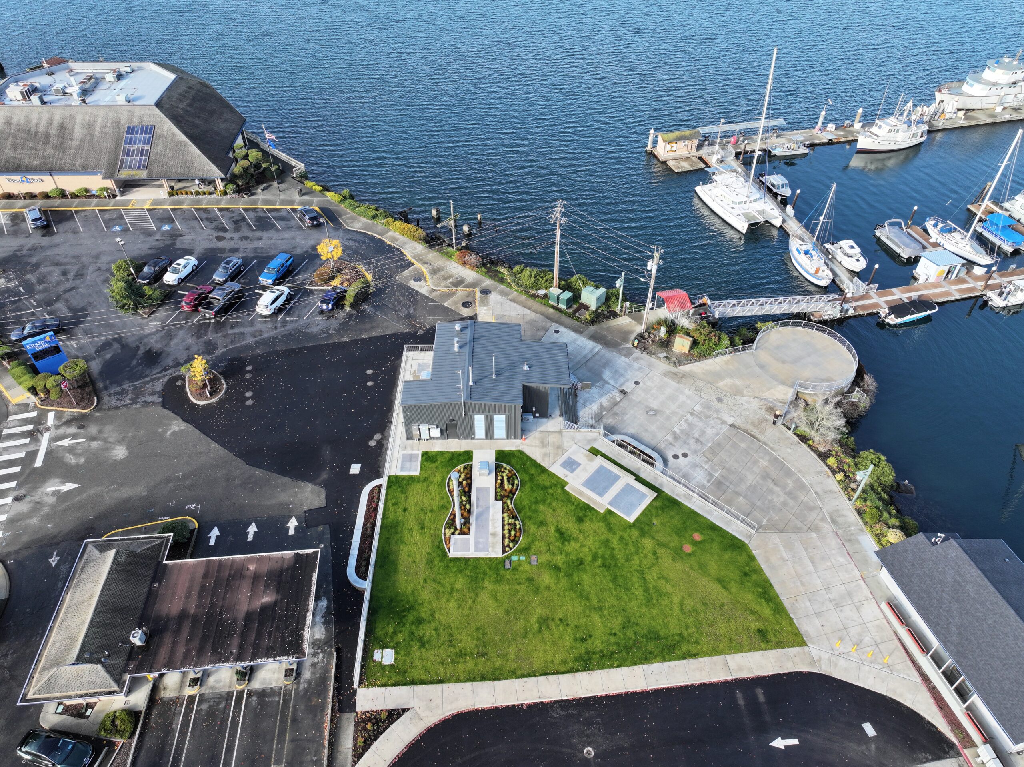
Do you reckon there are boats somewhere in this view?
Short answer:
Yes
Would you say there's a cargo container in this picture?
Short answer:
No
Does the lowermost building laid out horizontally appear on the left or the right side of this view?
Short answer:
left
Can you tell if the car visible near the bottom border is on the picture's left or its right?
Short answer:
left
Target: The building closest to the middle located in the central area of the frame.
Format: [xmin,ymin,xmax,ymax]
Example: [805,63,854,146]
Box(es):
[401,319,571,442]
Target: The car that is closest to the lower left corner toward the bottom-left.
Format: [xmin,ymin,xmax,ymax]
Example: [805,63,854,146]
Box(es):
[1,728,97,767]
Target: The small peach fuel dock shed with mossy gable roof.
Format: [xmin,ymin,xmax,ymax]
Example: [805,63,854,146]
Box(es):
[655,123,701,156]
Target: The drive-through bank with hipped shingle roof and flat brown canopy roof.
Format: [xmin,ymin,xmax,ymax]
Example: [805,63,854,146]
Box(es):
[17,533,321,707]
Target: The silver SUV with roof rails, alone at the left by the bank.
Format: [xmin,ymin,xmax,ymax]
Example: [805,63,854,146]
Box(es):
[21,203,46,227]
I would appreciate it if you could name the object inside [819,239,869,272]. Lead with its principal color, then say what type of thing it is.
white boat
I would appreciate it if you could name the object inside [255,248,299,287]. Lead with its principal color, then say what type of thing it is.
blue truck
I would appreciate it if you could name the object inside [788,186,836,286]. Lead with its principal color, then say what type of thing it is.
white boat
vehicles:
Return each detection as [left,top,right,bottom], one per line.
[316,282,348,312]
[1,728,97,767]
[136,255,176,284]
[194,279,247,318]
[255,248,299,287]
[160,255,201,286]
[252,282,296,316]
[209,251,249,284]
[294,203,321,227]
[178,281,216,312]
[21,203,46,227]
